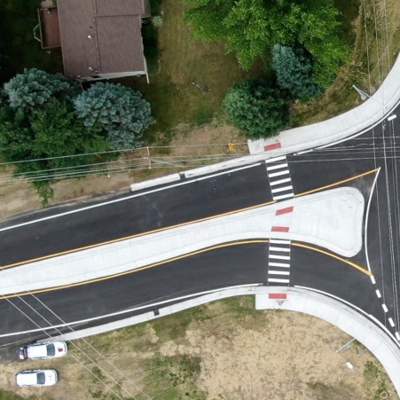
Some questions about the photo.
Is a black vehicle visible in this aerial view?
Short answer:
No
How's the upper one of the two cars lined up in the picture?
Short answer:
horizontally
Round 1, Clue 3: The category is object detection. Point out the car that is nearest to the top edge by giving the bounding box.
[19,340,69,361]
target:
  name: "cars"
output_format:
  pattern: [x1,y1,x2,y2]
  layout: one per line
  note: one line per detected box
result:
[19,340,69,361]
[16,368,61,388]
